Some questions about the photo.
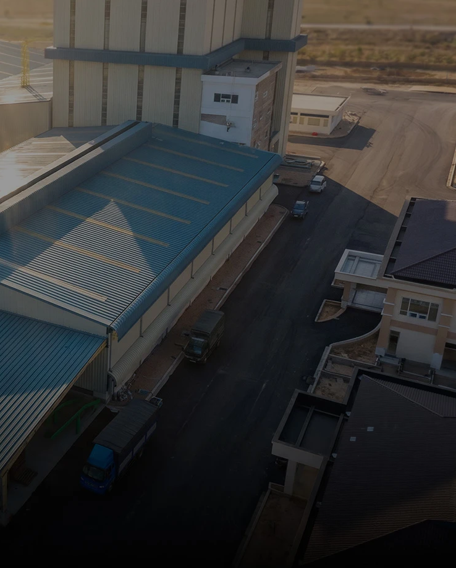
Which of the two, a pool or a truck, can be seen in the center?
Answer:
truck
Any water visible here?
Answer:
No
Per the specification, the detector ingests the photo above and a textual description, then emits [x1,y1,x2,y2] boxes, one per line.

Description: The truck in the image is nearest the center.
[185,310,226,363]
